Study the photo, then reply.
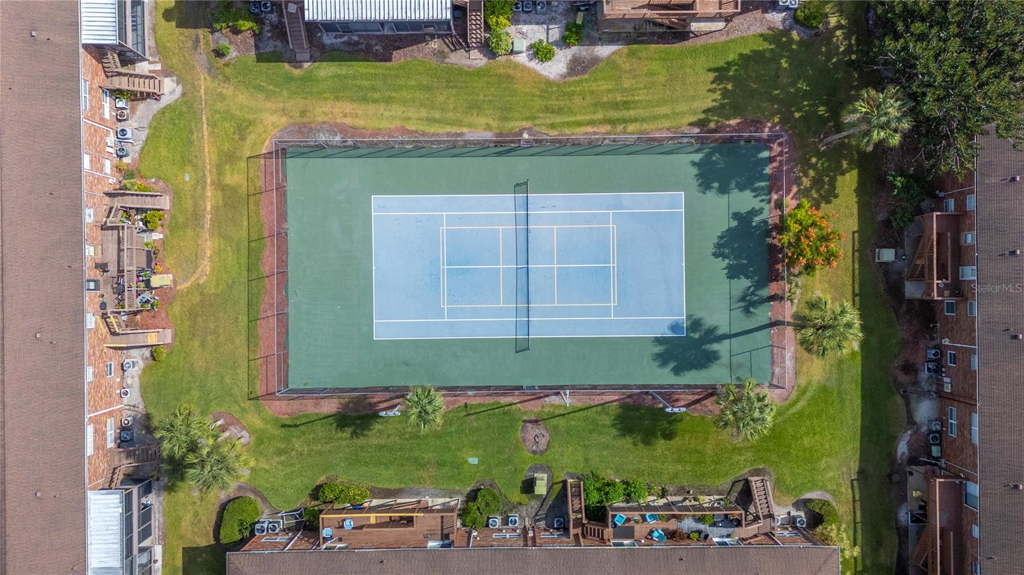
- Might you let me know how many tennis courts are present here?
one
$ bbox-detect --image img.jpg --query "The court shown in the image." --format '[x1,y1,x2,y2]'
[288,142,772,389]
